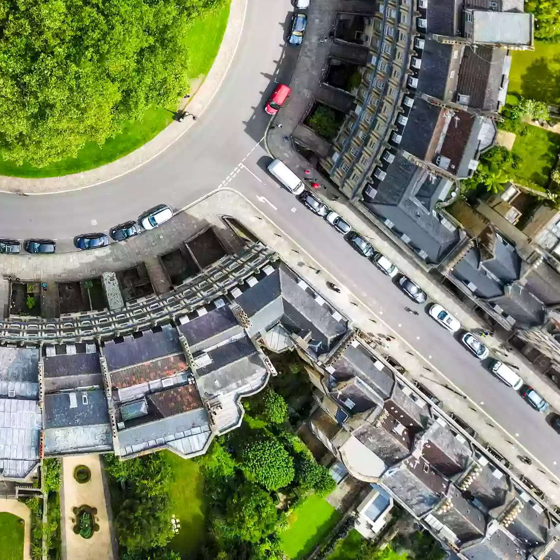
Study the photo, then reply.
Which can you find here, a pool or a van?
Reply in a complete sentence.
Looking from above, you can make out a van.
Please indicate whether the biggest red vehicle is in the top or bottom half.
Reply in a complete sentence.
The top half of the photo is where the biggest red vehicle is.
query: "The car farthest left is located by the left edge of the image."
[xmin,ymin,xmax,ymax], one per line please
[0,239,21,254]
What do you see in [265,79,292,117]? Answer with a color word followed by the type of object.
red vehicle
